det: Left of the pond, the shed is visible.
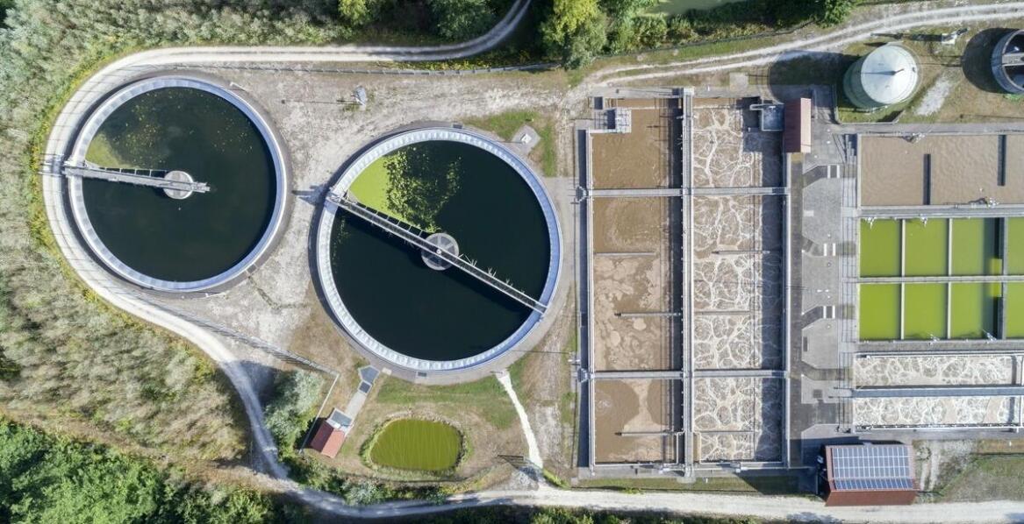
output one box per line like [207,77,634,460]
[310,420,347,458]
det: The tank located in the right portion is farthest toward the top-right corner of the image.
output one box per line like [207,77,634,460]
[991,29,1024,95]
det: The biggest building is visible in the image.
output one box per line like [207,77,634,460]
[817,440,921,506]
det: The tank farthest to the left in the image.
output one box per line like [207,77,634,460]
[66,75,284,291]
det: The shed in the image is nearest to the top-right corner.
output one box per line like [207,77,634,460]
[777,98,812,154]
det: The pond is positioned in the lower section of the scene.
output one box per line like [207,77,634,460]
[371,419,459,467]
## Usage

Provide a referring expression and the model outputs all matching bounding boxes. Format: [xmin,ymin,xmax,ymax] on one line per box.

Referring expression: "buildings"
[777,98,812,154]
[310,420,347,458]
[817,440,921,506]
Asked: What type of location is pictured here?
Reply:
industrial area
